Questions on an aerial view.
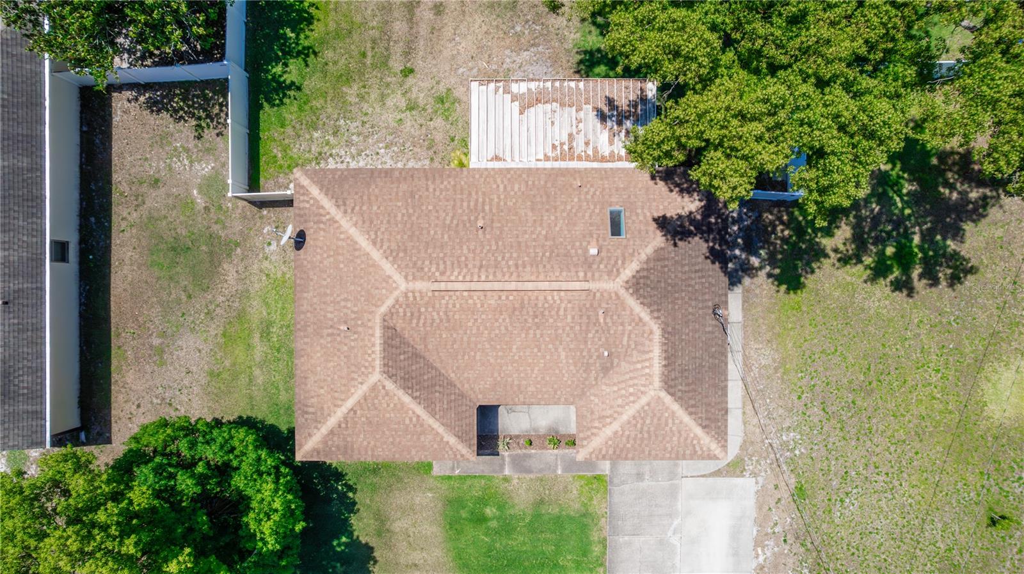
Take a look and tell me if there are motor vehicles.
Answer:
No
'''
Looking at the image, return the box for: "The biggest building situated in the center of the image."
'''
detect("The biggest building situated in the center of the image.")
[293,168,728,461]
